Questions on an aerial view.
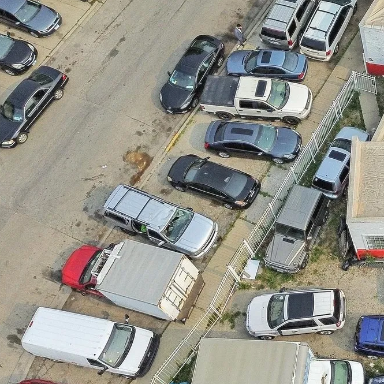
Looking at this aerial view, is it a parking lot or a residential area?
parking lot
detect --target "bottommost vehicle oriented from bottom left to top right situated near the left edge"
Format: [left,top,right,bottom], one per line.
[0,66,72,149]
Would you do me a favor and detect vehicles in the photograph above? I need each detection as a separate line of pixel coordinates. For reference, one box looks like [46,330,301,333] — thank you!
[191,339,367,384]
[247,286,348,339]
[162,32,228,114]
[257,0,317,49]
[352,313,384,361]
[165,156,263,212]
[0,66,72,149]
[260,177,329,280]
[0,32,40,80]
[102,180,214,261]
[297,0,359,65]
[310,125,369,207]
[13,302,161,382]
[0,0,63,40]
[226,43,310,83]
[201,119,304,167]
[197,72,314,122]
[65,235,210,321]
